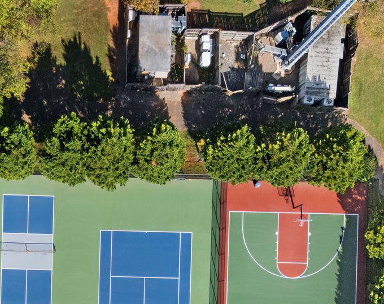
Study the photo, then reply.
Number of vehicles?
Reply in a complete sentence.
There are no vehicles in this view.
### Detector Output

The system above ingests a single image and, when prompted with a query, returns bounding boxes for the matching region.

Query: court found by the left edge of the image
[0,194,54,304]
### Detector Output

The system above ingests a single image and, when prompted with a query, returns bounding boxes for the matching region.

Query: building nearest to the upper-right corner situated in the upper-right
[298,16,346,99]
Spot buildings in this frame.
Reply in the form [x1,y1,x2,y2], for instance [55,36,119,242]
[298,16,346,99]
[137,16,172,76]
